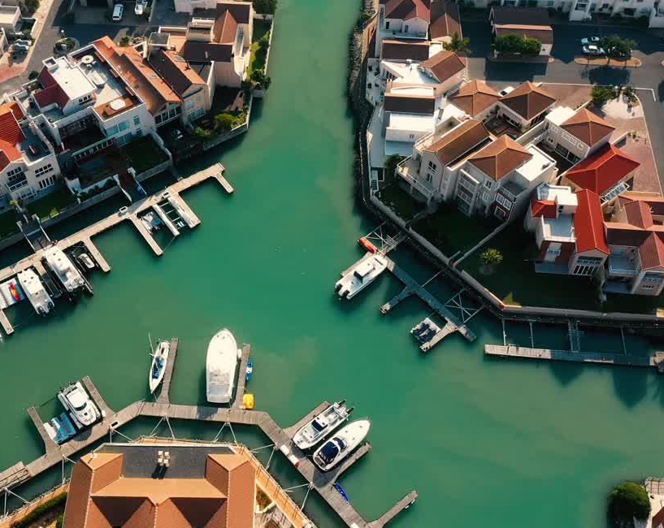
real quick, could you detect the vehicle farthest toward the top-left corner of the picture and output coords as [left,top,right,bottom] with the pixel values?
[113,4,125,21]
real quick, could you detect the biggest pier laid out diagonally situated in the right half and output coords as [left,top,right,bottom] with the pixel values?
[340,250,476,353]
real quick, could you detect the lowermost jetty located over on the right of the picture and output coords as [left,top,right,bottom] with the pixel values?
[483,344,664,375]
